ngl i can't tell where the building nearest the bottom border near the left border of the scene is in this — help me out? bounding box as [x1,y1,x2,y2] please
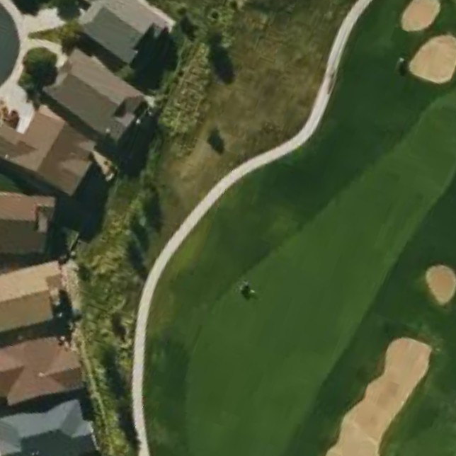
[0,401,95,456]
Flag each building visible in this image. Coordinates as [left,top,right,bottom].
[50,53,156,141]
[0,193,54,252]
[75,0,176,58]
[0,105,113,189]
[0,401,95,456]
[0,334,84,406]
[0,260,62,332]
